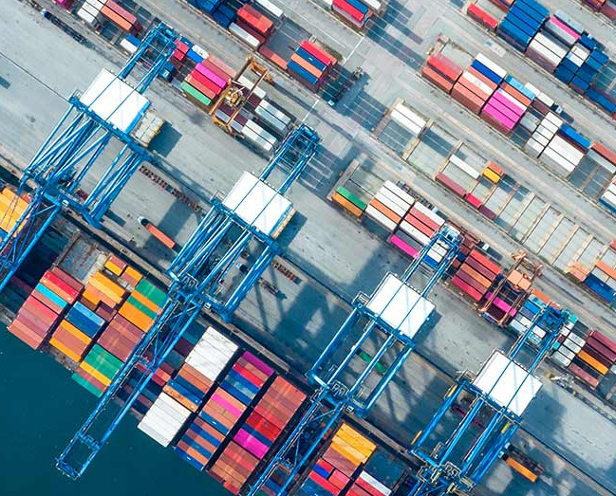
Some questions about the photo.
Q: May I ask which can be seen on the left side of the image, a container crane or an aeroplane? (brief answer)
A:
container crane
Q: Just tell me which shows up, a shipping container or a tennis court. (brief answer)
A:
shipping container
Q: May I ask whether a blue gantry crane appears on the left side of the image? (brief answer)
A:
Yes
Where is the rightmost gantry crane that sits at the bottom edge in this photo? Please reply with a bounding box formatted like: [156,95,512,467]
[403,298,570,496]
